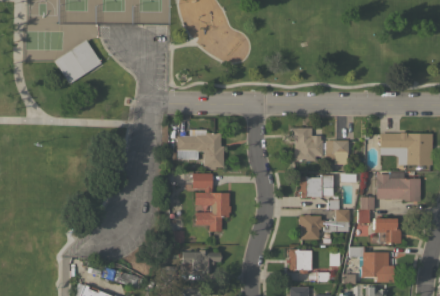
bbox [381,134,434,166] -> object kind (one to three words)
house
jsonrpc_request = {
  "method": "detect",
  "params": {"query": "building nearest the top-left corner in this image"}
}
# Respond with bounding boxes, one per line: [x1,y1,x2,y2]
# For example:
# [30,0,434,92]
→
[56,40,101,82]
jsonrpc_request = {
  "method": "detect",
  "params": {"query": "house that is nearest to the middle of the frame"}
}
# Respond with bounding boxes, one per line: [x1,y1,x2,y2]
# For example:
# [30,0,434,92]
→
[178,132,224,170]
